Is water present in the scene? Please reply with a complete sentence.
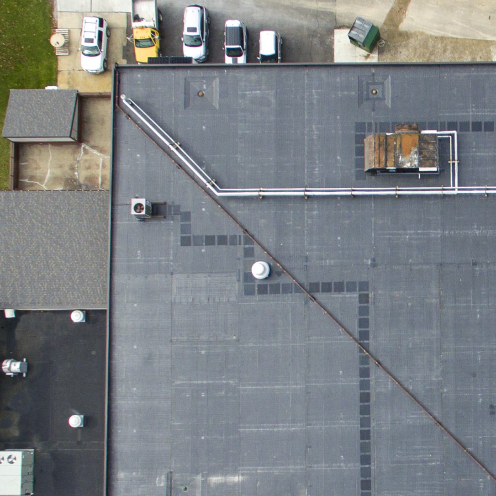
No, there is no water in the image.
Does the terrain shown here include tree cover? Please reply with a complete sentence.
No, the scene doesn't show any tree cover.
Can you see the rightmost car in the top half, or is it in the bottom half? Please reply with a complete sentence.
The top half of the photo is where the rightmost car is.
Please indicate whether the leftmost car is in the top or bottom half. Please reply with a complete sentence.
The leftmost car sits in the top half of the picture.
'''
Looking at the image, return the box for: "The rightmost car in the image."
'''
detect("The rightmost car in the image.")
[258,30,286,63]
